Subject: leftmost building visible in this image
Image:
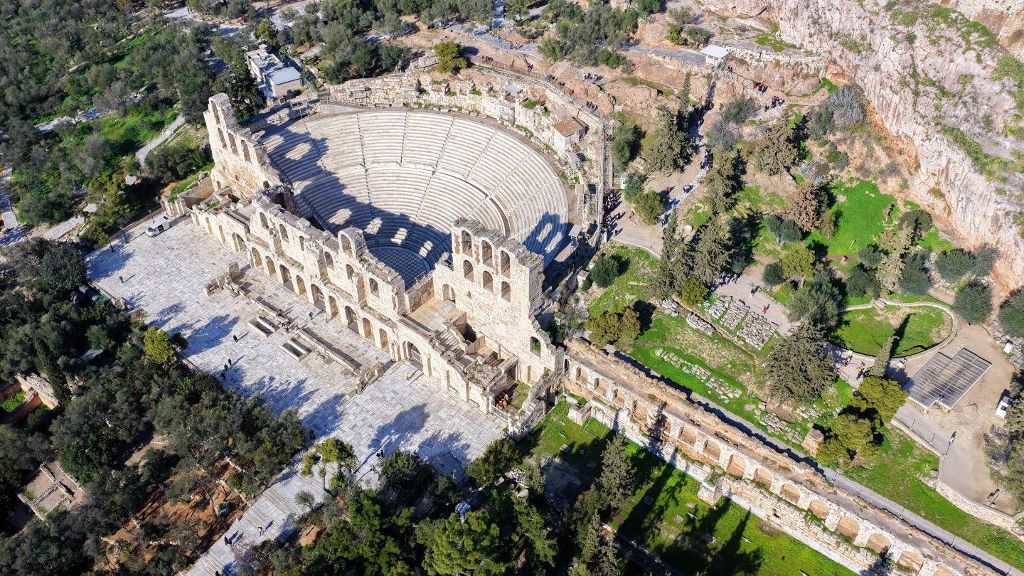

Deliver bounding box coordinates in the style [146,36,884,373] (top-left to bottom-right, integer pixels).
[182,186,255,259]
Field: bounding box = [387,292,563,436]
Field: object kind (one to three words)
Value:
building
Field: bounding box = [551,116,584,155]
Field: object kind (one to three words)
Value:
house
